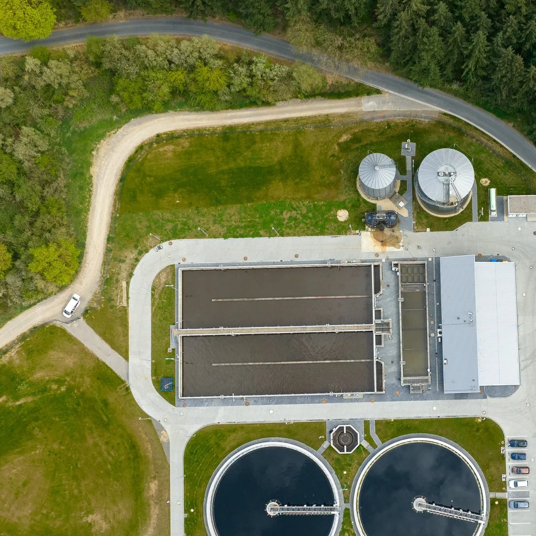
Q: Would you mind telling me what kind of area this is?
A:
industrial area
